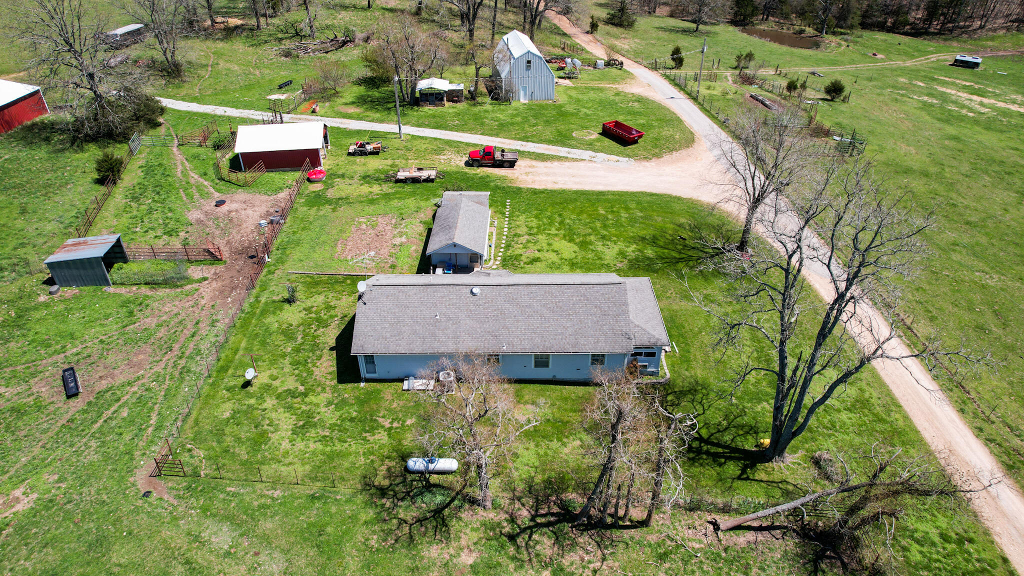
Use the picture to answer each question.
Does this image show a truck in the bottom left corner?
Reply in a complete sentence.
No, there's no truck to be seen in the bottom left corner.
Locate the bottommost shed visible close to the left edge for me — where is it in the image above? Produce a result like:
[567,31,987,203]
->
[40,231,133,286]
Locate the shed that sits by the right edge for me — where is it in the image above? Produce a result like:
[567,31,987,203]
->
[953,50,986,70]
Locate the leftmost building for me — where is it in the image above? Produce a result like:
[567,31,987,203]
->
[0,69,50,133]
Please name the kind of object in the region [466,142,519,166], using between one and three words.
truck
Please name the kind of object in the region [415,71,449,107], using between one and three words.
building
